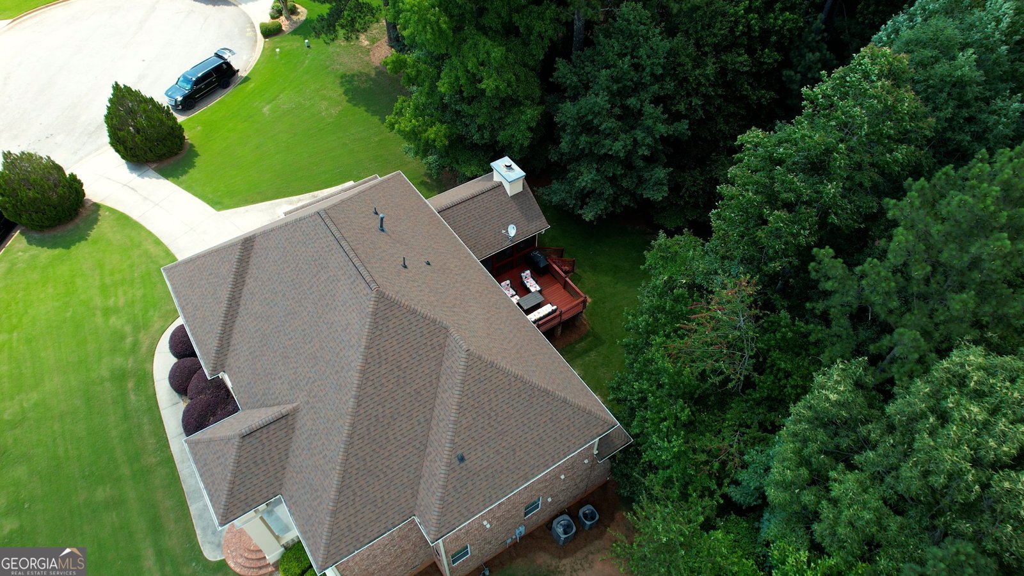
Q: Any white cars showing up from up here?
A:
No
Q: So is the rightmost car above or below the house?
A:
above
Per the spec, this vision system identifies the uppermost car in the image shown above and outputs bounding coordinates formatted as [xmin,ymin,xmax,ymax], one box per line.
[161,48,239,110]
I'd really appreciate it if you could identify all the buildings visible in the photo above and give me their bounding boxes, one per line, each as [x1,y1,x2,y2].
[161,157,633,576]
